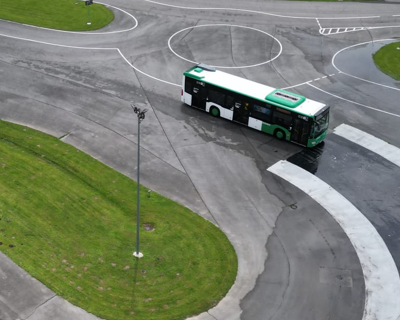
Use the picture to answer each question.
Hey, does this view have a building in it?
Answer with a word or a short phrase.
No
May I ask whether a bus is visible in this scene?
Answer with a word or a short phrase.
Yes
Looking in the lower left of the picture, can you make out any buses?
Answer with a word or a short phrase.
No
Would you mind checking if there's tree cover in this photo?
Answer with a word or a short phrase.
No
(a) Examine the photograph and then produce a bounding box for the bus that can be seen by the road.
[181,59,337,149]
